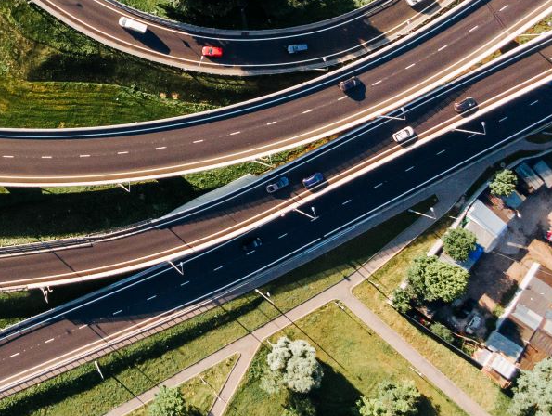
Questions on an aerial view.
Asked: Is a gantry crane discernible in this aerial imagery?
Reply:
No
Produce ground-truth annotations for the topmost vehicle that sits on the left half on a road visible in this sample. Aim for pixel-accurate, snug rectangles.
[119,17,147,33]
